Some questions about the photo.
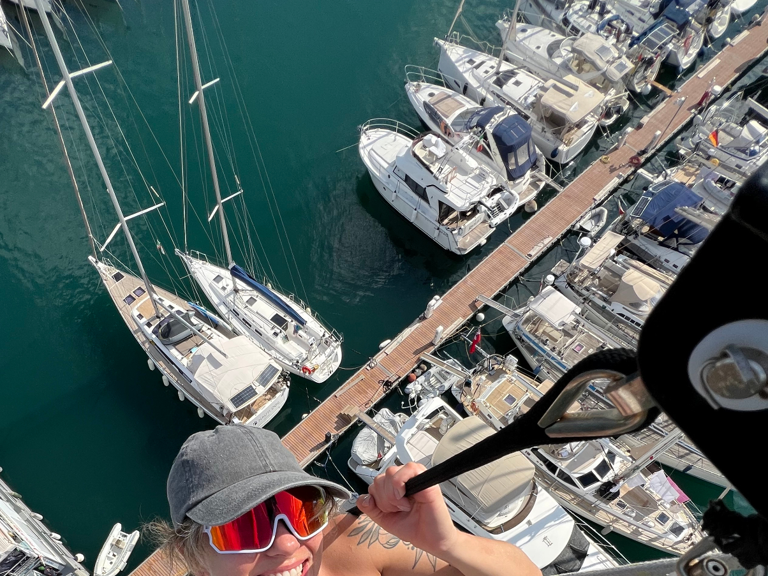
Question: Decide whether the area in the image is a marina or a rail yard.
marina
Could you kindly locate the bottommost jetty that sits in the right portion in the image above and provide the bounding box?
[285,12,768,456]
